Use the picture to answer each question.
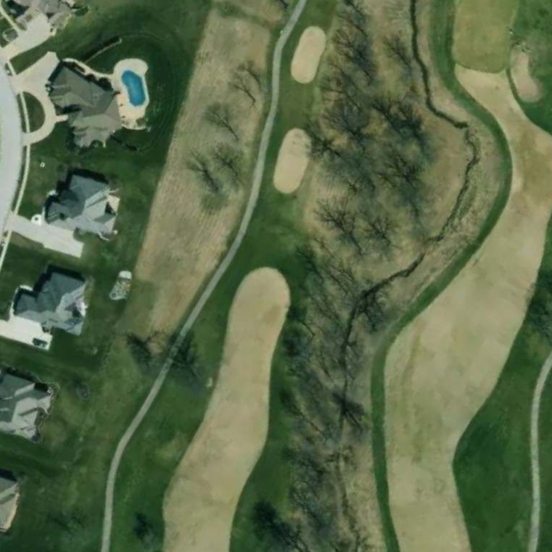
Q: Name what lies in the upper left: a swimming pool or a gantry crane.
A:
swimming pool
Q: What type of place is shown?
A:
golf course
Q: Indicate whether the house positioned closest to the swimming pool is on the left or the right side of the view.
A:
left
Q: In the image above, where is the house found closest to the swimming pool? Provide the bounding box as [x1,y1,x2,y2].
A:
[45,63,120,147]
